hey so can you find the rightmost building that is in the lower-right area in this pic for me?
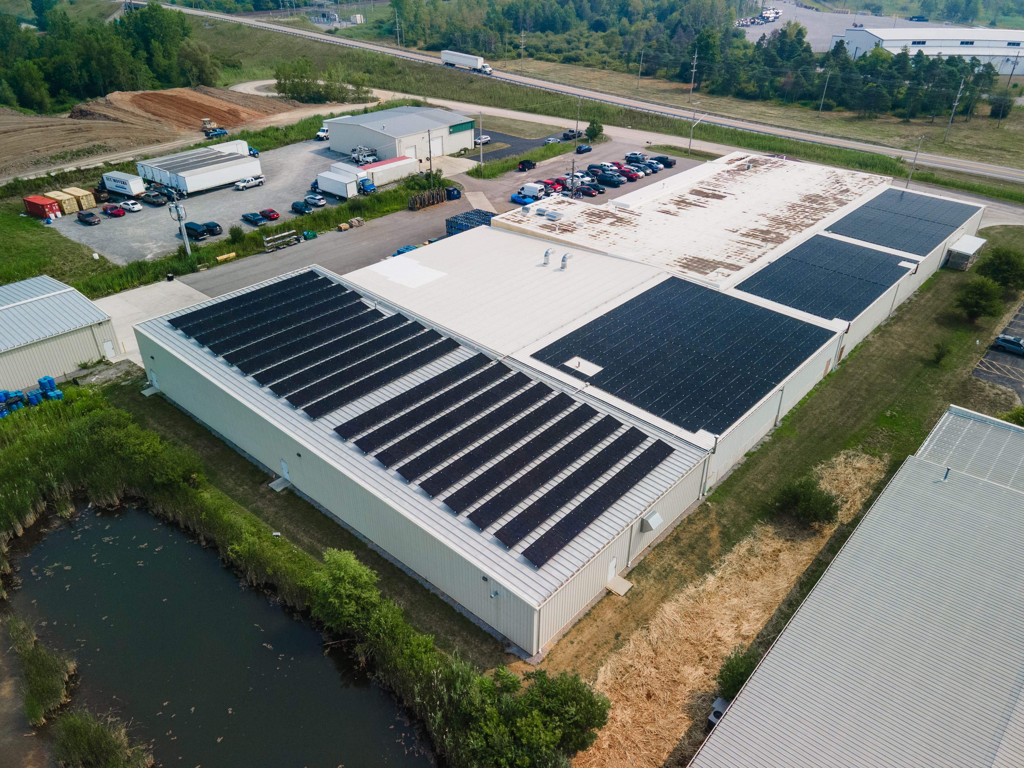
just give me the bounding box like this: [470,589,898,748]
[683,395,1024,768]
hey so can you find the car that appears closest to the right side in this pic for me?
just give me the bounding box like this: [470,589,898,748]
[989,332,1024,353]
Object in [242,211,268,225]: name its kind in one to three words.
car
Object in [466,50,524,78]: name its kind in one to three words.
truck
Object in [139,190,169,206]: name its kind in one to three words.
vehicle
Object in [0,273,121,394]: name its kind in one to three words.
shed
